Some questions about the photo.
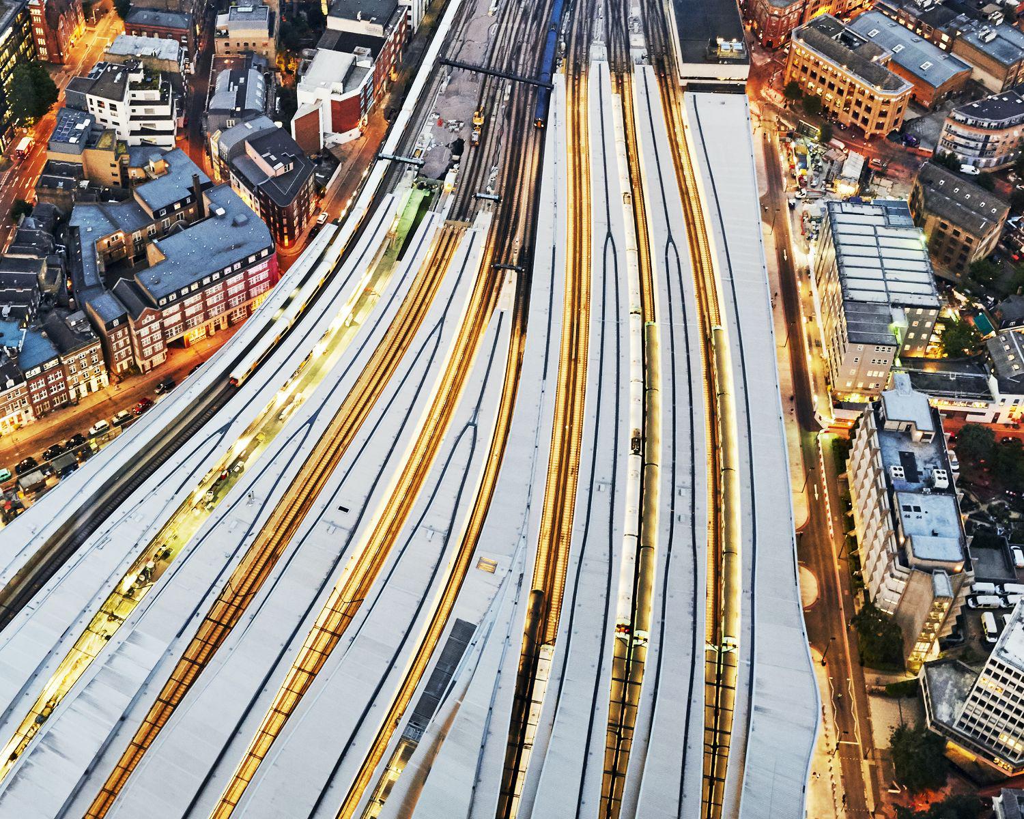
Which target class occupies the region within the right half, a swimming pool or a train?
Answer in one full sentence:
The one visible within the right half is a train.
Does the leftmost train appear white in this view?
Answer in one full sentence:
Yes, the leftmost train is white.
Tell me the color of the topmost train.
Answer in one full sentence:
In this view, the topmost train is blue.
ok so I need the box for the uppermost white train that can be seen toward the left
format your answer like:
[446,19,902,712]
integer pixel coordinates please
[235,0,468,392]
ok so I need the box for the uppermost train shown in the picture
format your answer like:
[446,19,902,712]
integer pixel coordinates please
[534,0,567,136]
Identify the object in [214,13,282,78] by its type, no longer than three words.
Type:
building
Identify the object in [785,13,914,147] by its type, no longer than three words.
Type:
building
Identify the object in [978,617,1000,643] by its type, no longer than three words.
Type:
vehicle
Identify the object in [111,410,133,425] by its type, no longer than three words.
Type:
car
